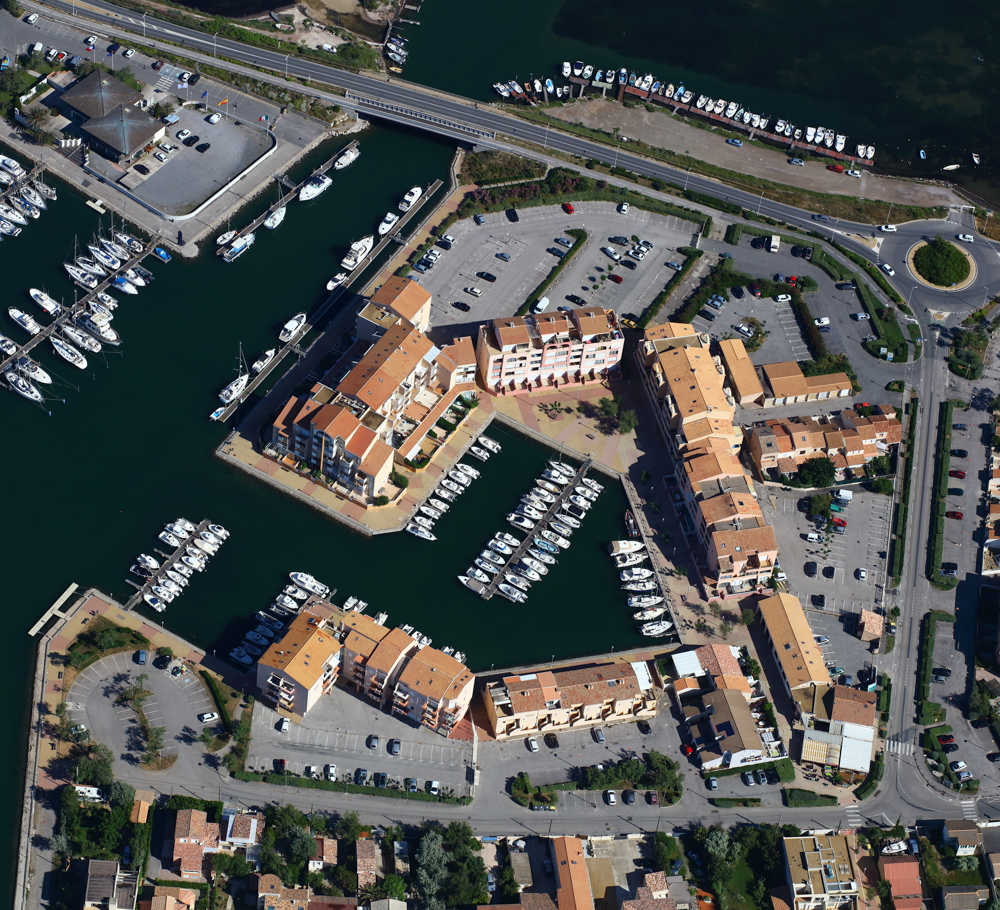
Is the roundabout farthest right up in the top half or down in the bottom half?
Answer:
top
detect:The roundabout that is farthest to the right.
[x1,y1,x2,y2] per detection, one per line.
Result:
[908,240,976,289]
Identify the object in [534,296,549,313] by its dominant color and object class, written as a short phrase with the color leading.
white vehicle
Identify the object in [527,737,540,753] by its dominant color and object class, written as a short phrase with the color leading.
white vehicle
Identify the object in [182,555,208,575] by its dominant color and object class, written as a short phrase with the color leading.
white boat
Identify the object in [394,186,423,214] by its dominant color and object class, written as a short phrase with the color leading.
white boat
